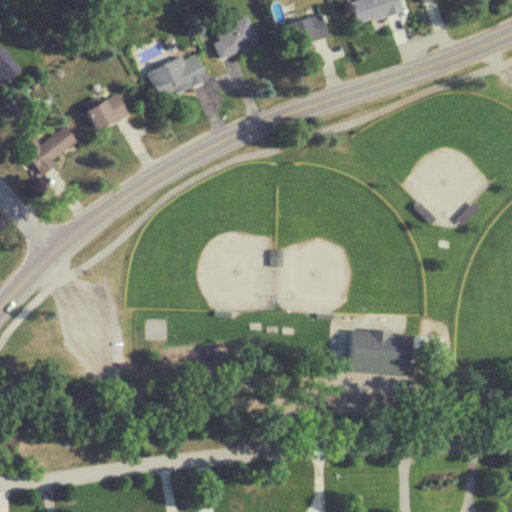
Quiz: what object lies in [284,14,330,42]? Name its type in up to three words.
house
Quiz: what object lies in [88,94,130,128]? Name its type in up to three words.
house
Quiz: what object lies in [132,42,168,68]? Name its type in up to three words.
swimming pool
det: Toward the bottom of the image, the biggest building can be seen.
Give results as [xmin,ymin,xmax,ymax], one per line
[351,327,405,374]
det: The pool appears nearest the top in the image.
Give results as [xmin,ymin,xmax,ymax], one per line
[272,0,284,24]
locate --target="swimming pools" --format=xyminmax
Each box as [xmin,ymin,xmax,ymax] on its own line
[272,0,284,24]
[132,42,168,68]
